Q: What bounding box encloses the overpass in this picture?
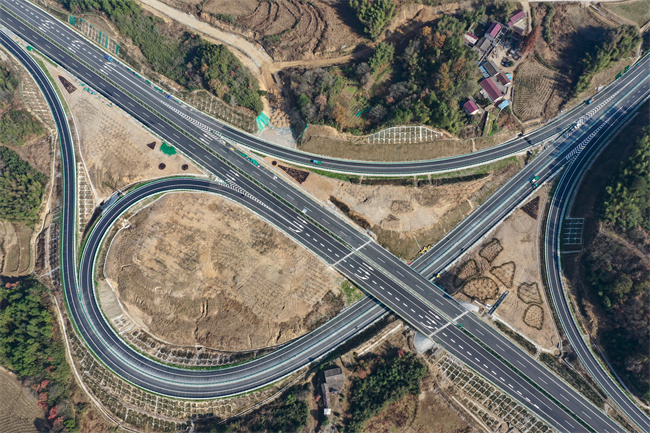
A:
[329,240,470,352]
